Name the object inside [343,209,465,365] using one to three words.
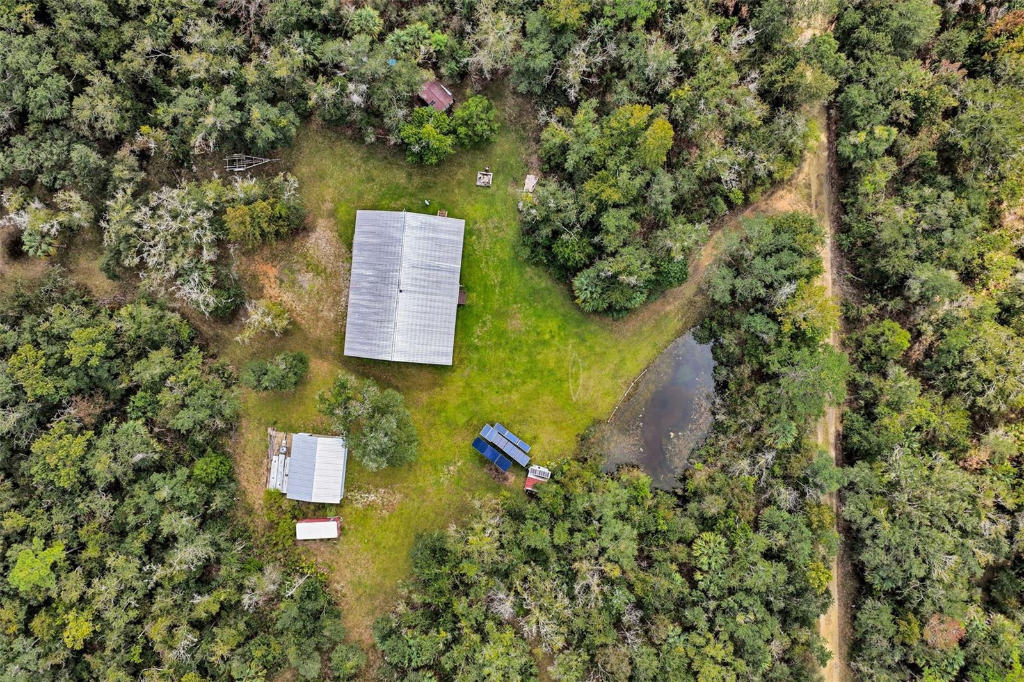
house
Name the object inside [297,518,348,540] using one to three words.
trailer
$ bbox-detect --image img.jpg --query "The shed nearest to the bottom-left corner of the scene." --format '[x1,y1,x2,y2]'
[286,432,347,503]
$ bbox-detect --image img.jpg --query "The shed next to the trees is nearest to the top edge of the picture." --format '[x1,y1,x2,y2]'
[422,80,454,115]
